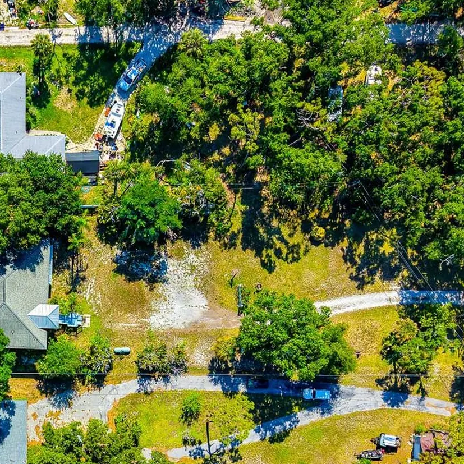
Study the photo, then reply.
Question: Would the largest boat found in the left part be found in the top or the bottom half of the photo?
top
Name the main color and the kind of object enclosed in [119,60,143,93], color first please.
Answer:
blue truck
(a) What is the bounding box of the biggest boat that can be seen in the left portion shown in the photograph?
[101,100,123,140]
